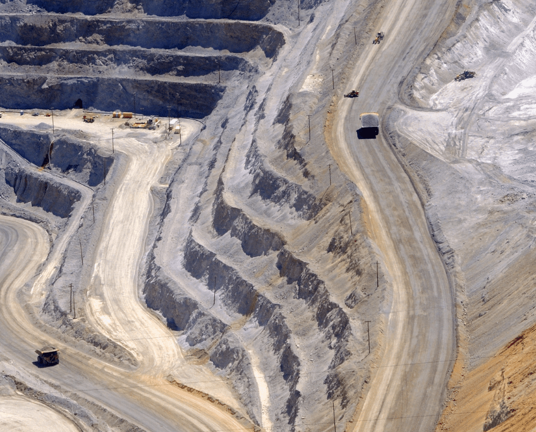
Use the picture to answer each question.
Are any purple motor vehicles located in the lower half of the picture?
No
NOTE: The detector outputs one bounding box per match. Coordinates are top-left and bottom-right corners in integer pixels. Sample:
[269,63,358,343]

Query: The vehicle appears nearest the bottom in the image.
[34,344,62,369]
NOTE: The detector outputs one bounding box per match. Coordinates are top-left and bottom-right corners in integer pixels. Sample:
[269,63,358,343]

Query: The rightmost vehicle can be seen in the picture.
[449,67,478,84]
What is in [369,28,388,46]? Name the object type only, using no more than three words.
work vehicle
